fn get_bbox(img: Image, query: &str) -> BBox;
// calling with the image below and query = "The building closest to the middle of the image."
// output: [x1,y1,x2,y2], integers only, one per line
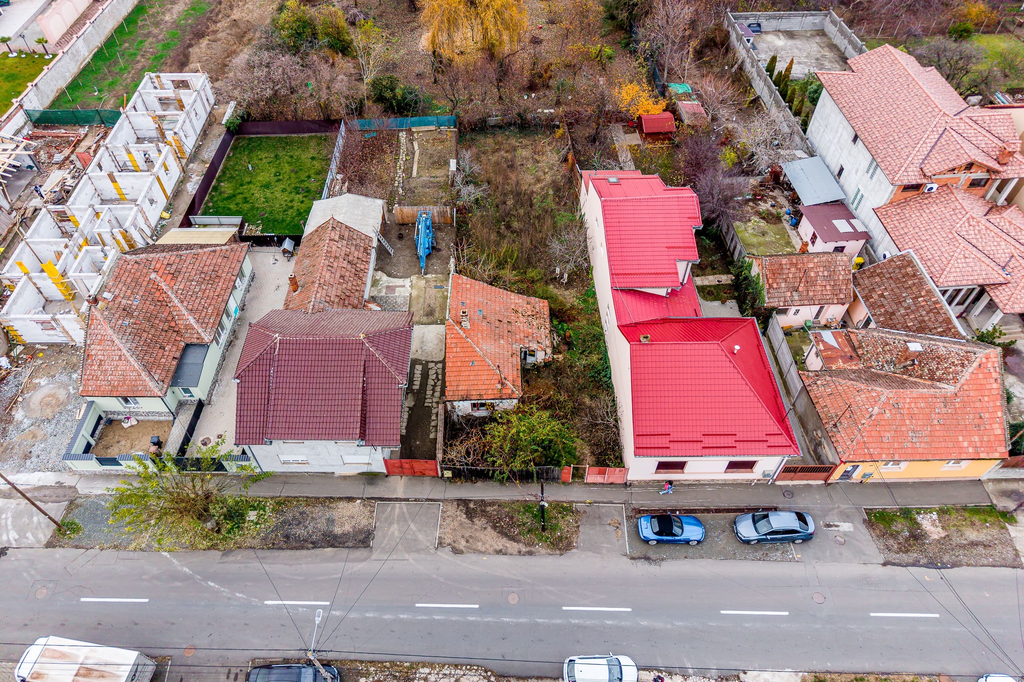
[443,272,552,421]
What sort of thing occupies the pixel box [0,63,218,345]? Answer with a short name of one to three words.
house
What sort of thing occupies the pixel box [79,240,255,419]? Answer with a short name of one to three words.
house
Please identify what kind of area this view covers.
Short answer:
residential area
